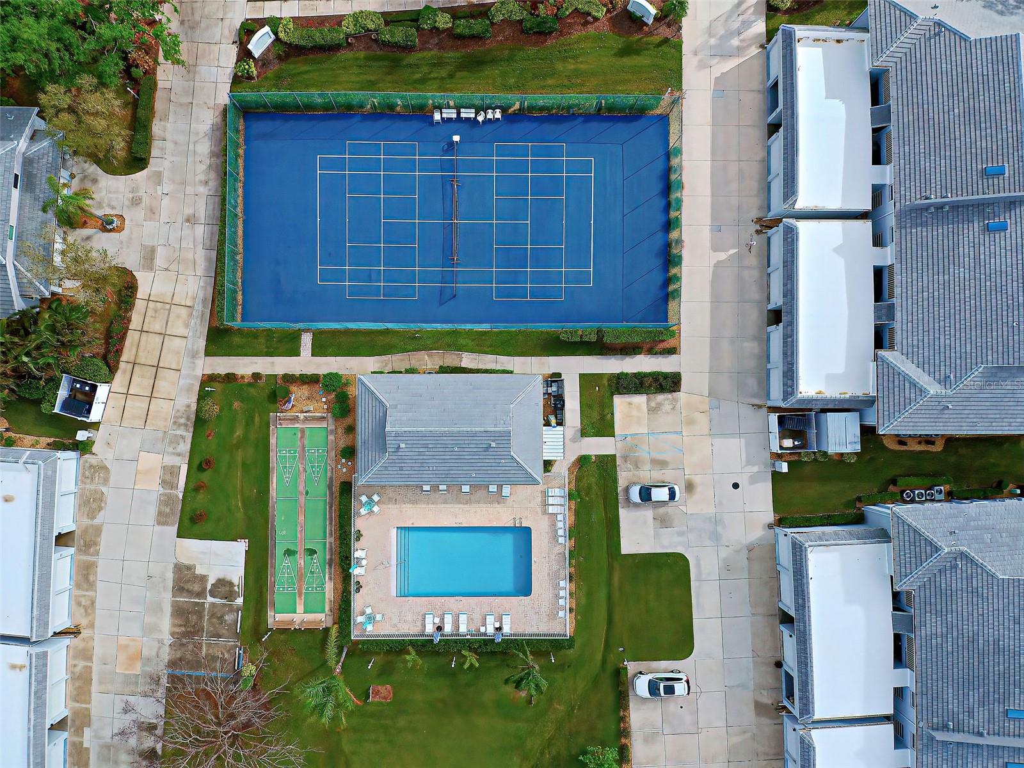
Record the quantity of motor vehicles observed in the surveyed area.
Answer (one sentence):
My tally gives 2 motor vehicles in this view.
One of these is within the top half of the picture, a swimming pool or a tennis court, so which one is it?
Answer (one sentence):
The feature located within the top half of the picture is a tennis court.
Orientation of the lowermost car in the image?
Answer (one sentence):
The lowermost car is oriented from left to right.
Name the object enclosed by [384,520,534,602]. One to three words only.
swimming pool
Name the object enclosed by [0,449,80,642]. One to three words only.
building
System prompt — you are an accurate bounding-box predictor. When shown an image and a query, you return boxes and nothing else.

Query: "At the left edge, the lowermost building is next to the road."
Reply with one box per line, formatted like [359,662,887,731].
[0,631,70,768]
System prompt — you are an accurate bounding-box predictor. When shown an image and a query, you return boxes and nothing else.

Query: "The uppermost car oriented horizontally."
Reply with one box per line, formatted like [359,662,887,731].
[627,481,681,507]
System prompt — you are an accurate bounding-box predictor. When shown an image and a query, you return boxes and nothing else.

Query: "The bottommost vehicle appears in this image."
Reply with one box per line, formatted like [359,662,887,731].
[632,669,691,699]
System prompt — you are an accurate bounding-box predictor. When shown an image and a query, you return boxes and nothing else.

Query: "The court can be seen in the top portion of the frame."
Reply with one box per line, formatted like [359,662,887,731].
[233,111,680,330]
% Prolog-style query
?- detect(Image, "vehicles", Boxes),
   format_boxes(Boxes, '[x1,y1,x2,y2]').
[632,669,691,699]
[627,481,681,507]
